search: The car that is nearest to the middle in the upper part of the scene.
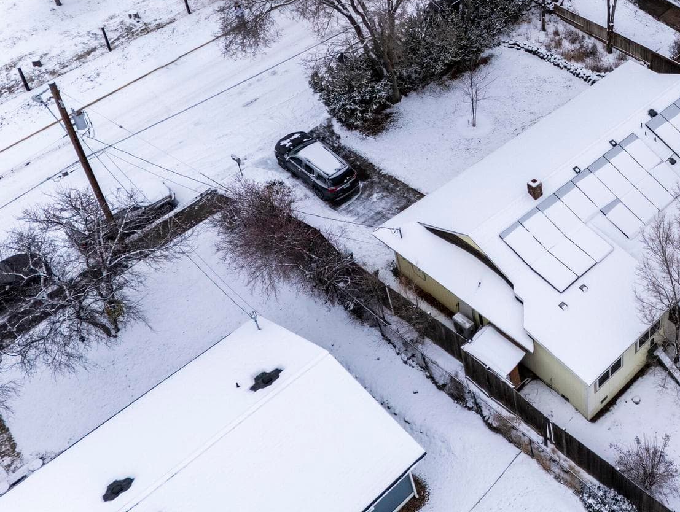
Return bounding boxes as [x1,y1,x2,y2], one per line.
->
[275,133,365,202]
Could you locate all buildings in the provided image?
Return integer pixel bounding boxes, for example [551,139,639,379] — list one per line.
[371,59,680,421]
[0,310,422,512]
